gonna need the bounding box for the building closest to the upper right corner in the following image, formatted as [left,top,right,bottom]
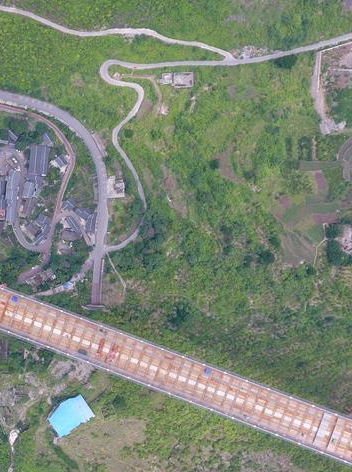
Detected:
[169,69,194,96]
